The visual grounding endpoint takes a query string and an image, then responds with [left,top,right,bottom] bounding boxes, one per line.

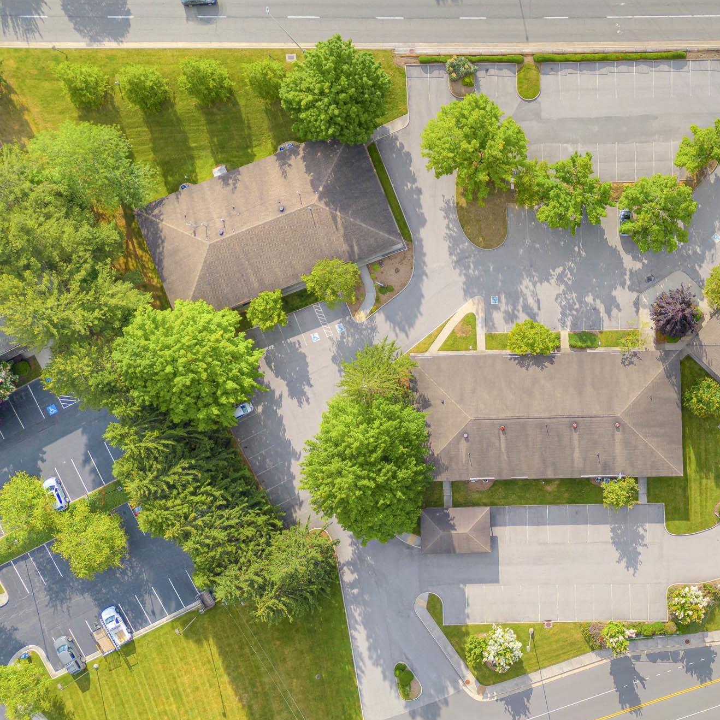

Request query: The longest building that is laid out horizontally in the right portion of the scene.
[410,350,684,482]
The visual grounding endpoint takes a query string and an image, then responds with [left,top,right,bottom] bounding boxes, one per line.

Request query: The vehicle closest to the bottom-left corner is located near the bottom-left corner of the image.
[56,634,84,675]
